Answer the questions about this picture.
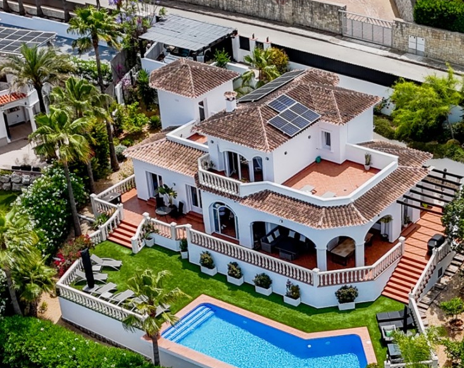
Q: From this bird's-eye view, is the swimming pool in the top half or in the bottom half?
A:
bottom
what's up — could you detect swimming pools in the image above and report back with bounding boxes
[141,293,380,368]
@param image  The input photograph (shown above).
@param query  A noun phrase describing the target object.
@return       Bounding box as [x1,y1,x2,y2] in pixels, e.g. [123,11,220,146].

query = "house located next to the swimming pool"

[123,65,462,272]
